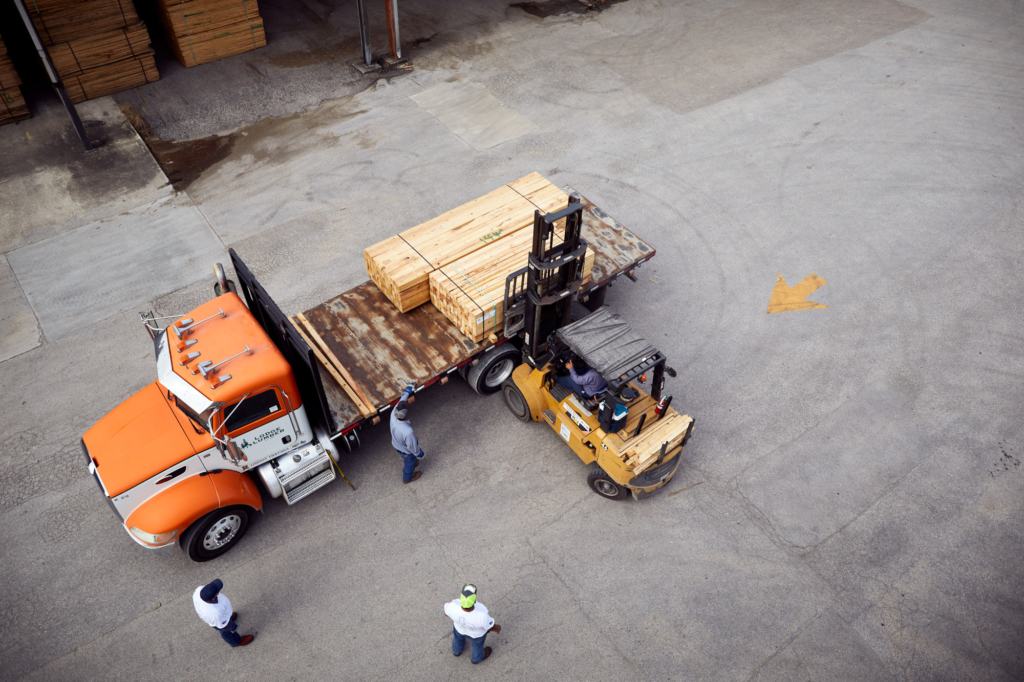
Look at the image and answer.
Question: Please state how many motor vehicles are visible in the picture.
2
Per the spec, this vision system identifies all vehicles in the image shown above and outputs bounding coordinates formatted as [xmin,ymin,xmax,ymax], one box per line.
[75,184,658,621]
[501,185,700,507]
